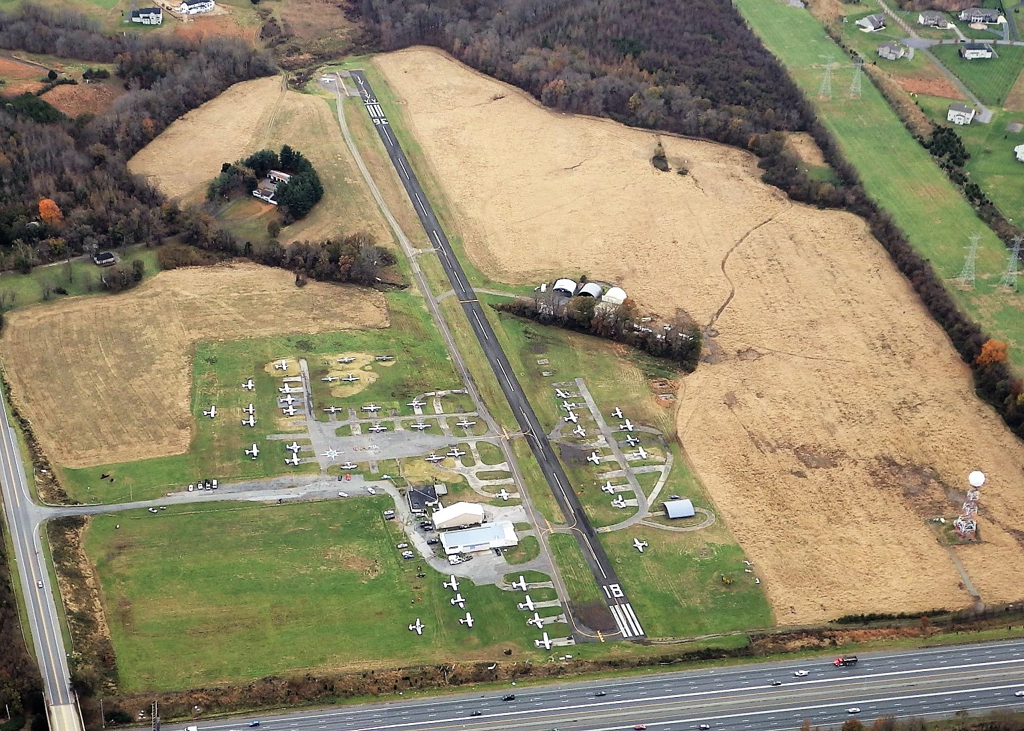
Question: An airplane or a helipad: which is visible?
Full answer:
Of the two, only an airplane appears.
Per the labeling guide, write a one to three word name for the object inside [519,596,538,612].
airplane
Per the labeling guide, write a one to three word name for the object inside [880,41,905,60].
house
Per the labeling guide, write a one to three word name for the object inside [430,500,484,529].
hangar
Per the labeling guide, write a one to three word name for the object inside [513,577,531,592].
airplane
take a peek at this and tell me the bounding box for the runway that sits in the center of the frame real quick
[348,70,650,644]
